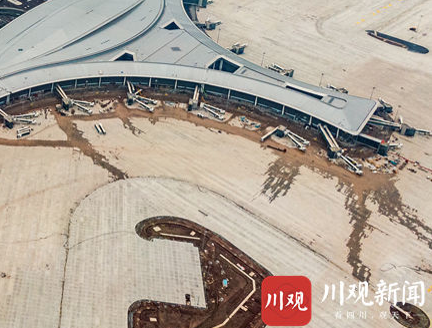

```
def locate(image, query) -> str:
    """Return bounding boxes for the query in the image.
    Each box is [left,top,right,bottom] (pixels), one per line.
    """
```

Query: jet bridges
[184,0,215,9]
[195,22,223,32]
[126,83,158,113]
[259,128,312,151]
[369,114,432,139]
[266,63,293,77]
[376,97,392,115]
[357,133,405,157]
[229,43,248,55]
[320,128,365,171]
[58,89,95,116]
[188,90,227,122]
[0,109,40,129]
